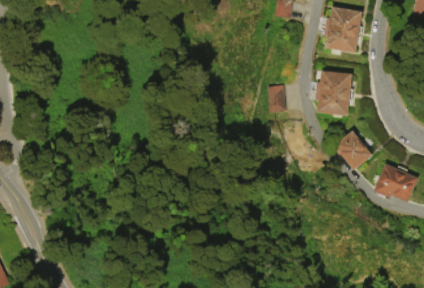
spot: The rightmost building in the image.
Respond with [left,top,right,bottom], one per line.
[374,164,418,203]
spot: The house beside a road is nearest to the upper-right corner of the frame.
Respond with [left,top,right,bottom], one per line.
[322,6,362,54]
